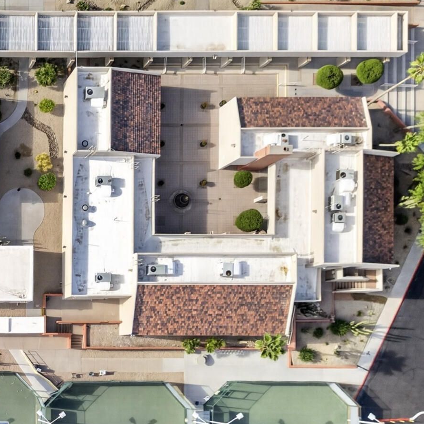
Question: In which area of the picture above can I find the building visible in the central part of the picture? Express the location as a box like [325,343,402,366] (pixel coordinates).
[60,67,402,337]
